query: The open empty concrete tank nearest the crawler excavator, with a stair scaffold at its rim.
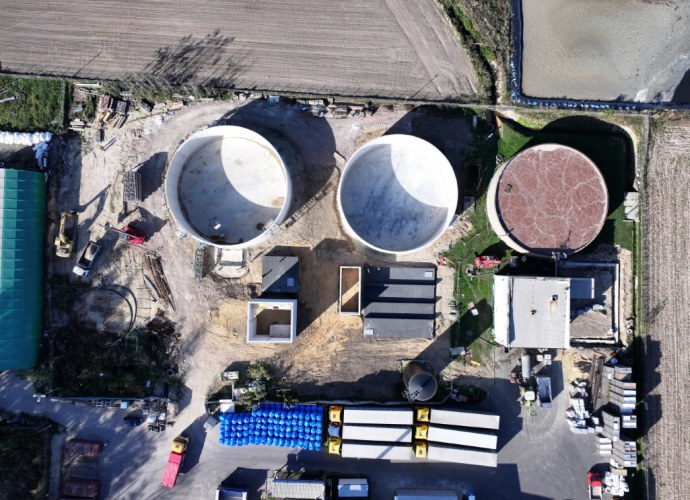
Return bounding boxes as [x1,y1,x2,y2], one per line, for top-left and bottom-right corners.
[166,125,293,247]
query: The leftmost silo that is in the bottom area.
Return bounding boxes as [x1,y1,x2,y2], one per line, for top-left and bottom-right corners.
[400,358,437,402]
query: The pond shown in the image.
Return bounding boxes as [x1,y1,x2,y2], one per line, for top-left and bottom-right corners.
[511,0,690,111]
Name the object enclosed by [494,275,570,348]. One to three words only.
building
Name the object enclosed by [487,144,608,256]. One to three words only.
storage tank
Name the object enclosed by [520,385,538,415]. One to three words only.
work vehicle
